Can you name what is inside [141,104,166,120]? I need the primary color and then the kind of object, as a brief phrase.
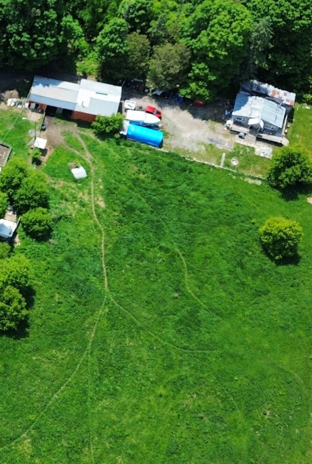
red vehicle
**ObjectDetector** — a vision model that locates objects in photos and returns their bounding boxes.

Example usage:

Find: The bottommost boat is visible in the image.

[126,126,160,148]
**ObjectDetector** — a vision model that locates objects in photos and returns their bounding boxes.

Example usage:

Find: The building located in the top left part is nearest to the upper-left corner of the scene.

[24,75,76,118]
